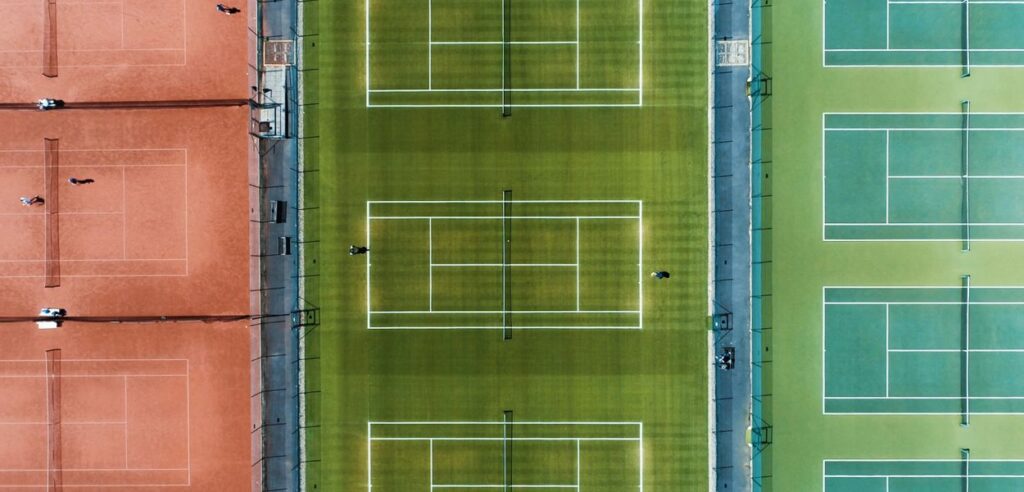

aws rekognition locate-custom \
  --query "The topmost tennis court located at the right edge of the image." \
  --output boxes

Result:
[823,0,1024,66]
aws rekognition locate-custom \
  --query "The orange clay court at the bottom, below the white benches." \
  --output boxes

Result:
[0,359,190,487]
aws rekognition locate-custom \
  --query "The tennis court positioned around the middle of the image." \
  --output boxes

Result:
[367,201,643,329]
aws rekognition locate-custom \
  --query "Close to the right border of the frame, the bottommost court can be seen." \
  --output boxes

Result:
[823,460,1024,492]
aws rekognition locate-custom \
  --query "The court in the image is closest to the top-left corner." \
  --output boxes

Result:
[0,0,187,66]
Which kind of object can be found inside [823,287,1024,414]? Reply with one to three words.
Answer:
tennis court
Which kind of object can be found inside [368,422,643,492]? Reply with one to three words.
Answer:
tennis court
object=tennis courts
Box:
[0,148,189,277]
[823,287,1024,414]
[0,359,190,487]
[368,422,643,492]
[367,201,643,329]
[366,0,642,107]
[823,0,1024,66]
[823,460,1024,492]
[0,0,187,66]
[823,113,1024,241]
